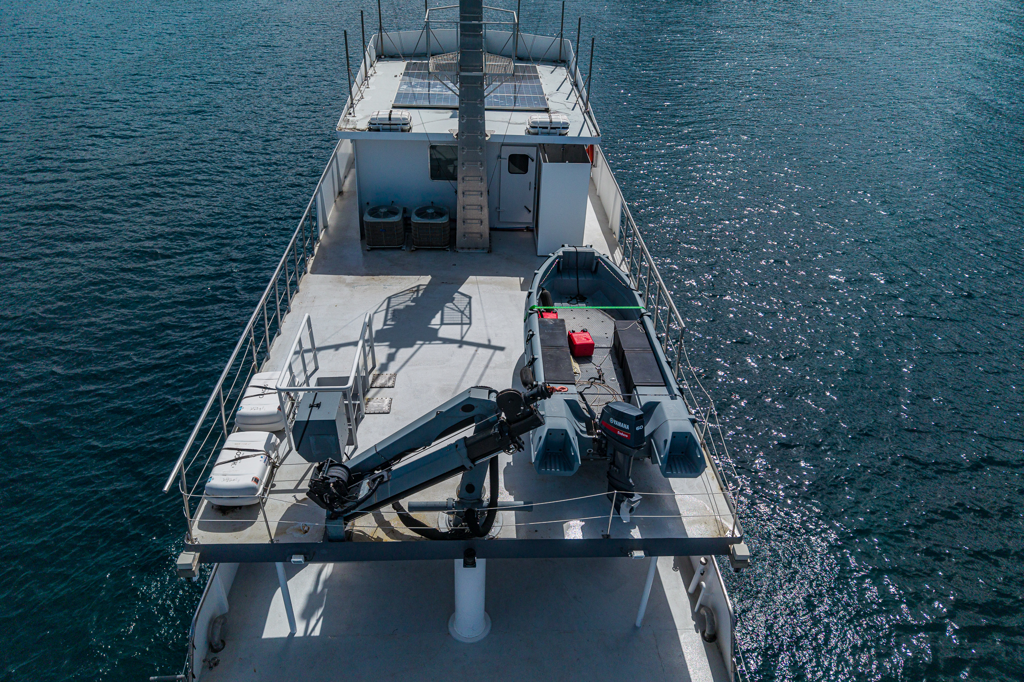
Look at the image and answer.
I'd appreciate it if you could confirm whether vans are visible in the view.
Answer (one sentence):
No, no van can be seen from above.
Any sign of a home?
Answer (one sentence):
No, the photo shows no home.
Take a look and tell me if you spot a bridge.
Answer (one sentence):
No, no bridge is visible in the view.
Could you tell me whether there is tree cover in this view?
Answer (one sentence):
No, tree cover can't be seen anywhere here.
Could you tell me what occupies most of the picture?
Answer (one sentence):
For the most part, this view shows water.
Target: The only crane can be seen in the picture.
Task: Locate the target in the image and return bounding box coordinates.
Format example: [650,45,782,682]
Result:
[298,380,558,543]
